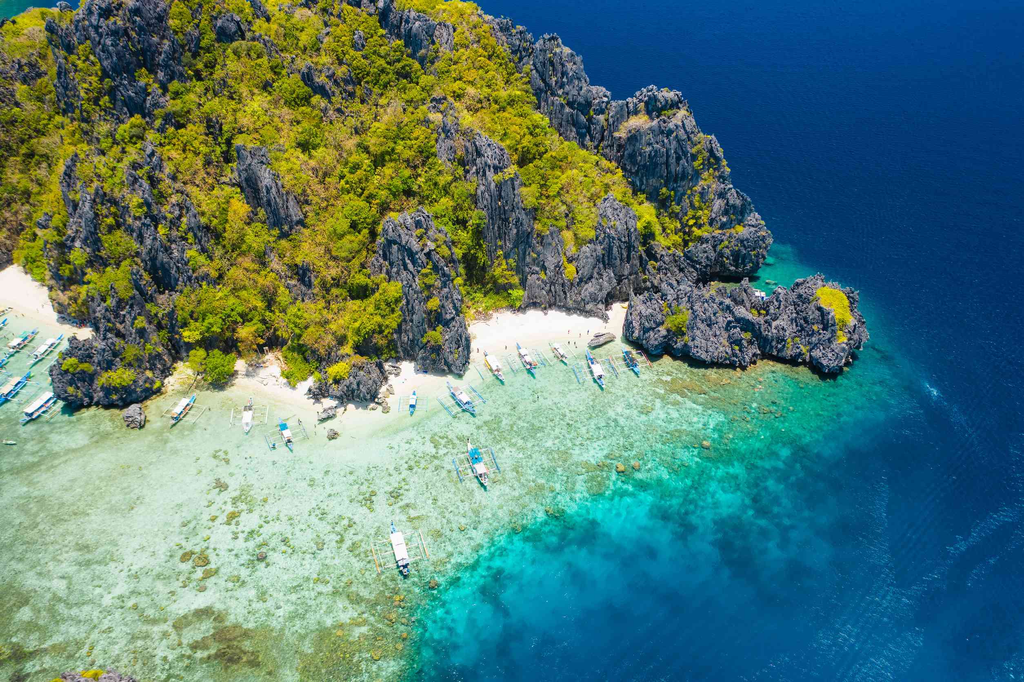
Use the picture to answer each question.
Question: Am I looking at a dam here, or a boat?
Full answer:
It is a boat that can be seen here.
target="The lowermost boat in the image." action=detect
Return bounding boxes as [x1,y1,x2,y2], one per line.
[372,504,430,578]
